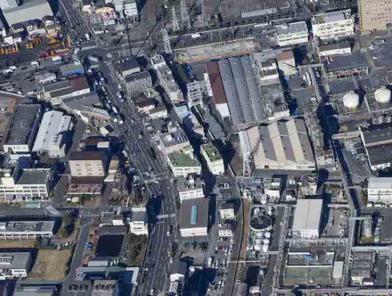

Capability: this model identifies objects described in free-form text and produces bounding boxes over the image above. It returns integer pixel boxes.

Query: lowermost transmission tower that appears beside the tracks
[234,131,254,180]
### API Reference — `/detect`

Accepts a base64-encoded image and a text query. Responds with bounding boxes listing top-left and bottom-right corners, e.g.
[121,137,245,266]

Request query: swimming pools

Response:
[94,232,126,257]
